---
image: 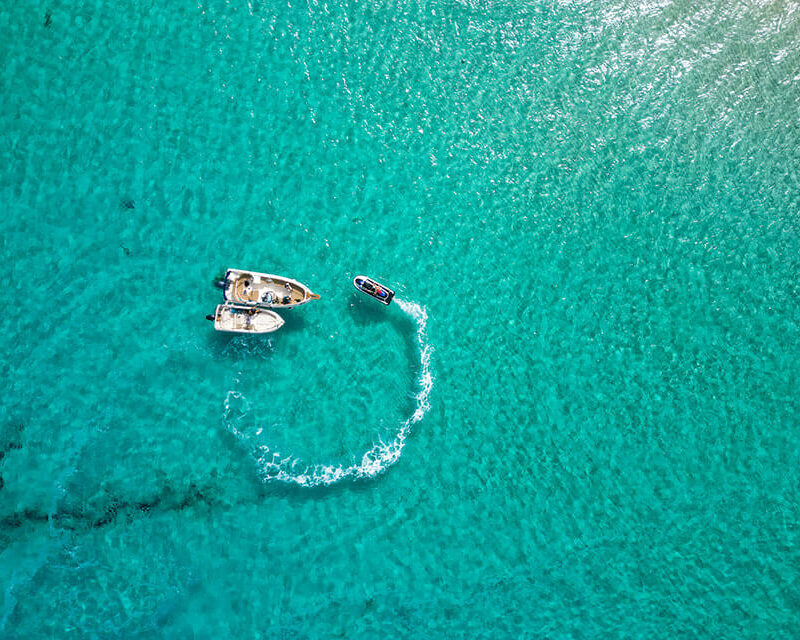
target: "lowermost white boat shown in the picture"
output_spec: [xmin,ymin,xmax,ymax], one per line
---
[206,305,285,333]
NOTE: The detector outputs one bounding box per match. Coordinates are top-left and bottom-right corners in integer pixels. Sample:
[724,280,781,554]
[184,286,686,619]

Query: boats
[213,270,320,309]
[354,276,394,304]
[206,305,285,333]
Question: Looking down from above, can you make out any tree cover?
No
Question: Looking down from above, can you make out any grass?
No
